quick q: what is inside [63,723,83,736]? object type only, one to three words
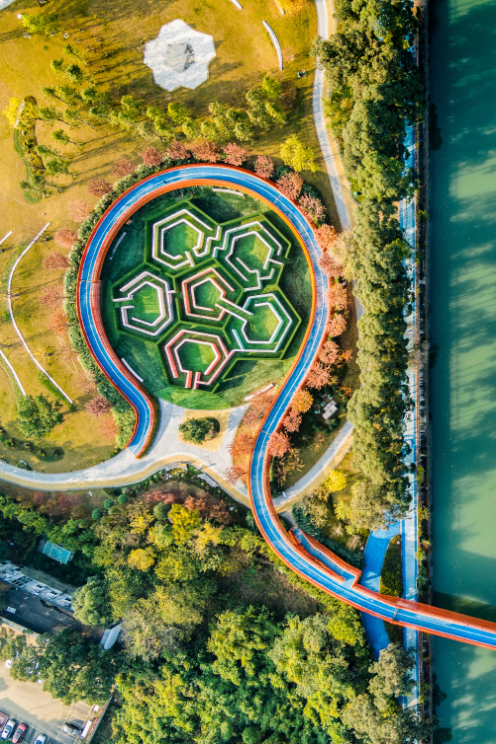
vehicle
